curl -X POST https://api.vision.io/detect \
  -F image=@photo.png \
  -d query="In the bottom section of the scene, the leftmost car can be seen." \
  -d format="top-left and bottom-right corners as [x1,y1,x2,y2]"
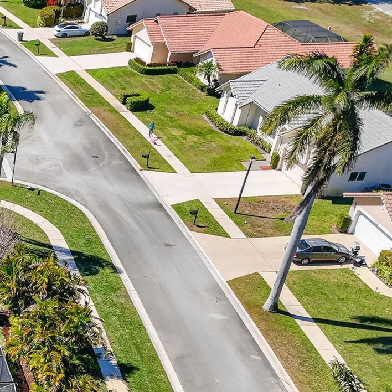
[295,233,353,264]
